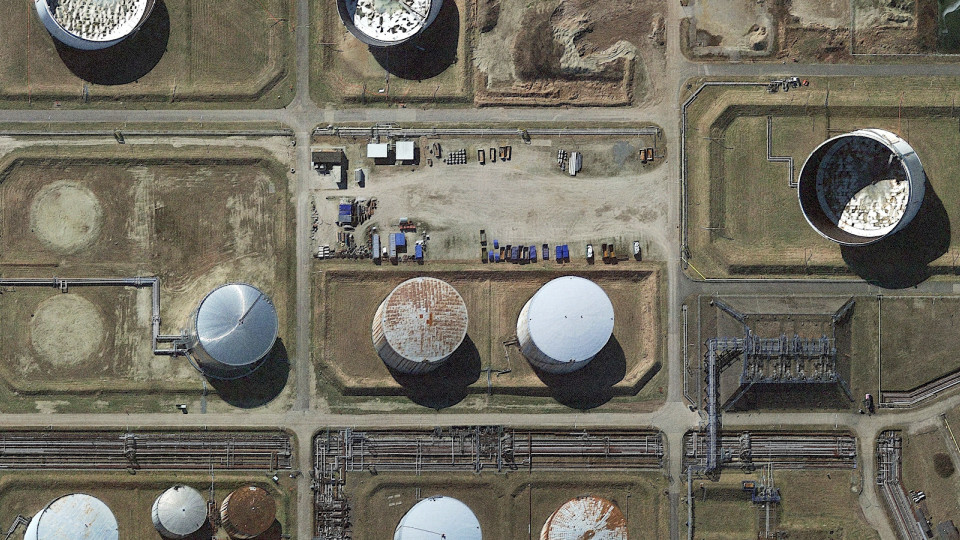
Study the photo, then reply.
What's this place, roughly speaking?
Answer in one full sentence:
It's an industrial area.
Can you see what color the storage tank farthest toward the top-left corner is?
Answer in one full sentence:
The storage tank farthest toward the top-left corner looks white in the image.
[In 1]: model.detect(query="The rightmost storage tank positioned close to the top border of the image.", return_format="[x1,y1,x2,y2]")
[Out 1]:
[337,0,446,48]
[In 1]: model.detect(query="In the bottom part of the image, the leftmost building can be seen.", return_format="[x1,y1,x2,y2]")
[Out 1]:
[742,315,834,383]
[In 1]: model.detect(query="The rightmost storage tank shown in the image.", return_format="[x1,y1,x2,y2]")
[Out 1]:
[796,127,923,255]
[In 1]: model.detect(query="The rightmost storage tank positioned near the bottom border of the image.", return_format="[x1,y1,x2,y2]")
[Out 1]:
[538,494,630,540]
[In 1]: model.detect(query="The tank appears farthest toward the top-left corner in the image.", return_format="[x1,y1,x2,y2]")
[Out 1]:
[35,0,154,52]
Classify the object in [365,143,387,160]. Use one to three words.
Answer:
shed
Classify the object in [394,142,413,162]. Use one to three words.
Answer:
shed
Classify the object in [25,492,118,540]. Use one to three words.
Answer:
storage tank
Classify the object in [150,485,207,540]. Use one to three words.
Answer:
storage tank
